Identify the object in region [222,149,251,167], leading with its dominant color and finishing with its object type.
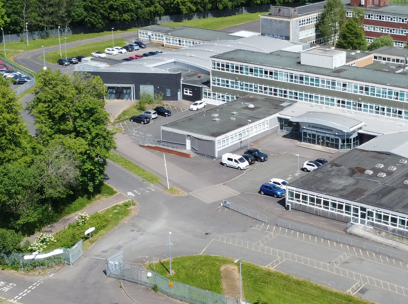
white vehicle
